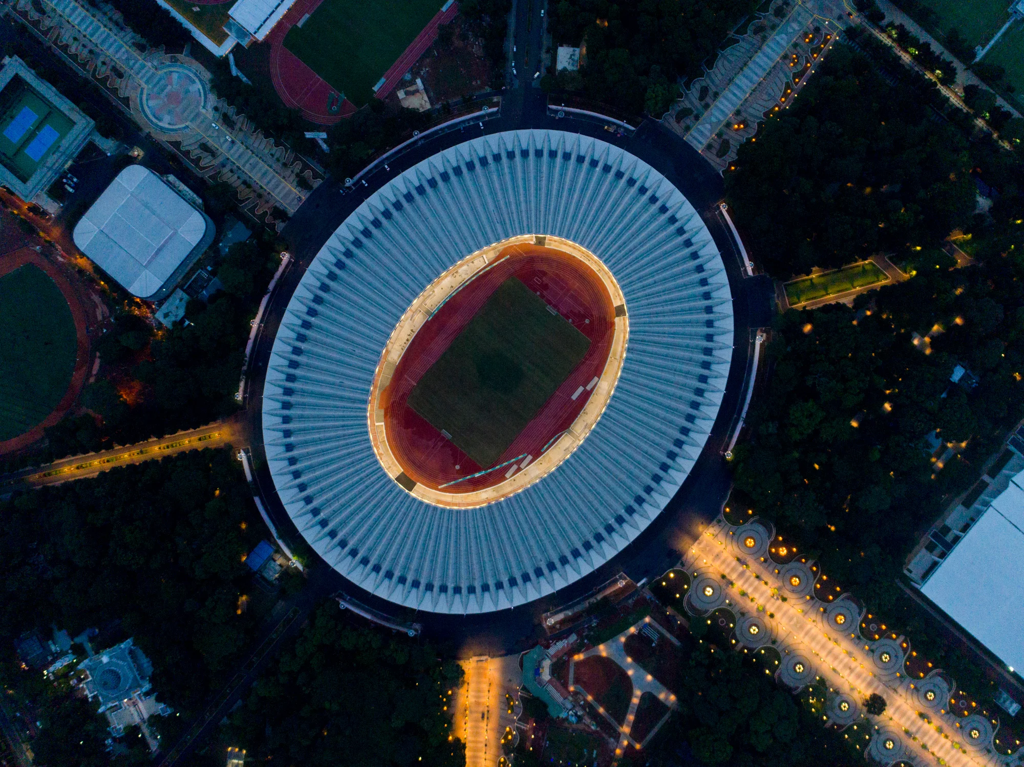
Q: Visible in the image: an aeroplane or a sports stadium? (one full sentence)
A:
Looking from above, you can make out a sports stadium.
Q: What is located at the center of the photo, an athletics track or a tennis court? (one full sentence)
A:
You can see an athletics track at the center of the photo.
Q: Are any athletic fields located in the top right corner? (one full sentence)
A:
Yes, you'll find an athletic field in the top right corner.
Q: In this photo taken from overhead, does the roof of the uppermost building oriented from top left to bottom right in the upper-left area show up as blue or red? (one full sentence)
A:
The roof of the uppermost building oriented from top left to bottom right in the upper-left area is blue.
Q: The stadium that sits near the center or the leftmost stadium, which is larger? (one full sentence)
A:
The stadium that sits near the center takes up more space than the leftmost stadium.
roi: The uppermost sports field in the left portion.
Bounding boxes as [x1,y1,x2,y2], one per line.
[283,0,446,103]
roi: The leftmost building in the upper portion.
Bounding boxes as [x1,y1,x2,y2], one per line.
[0,55,103,206]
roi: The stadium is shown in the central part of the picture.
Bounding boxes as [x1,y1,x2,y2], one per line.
[258,126,738,617]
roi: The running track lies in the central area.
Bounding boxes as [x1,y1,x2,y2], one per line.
[381,247,617,498]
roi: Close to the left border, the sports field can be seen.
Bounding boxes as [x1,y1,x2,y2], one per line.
[0,248,91,453]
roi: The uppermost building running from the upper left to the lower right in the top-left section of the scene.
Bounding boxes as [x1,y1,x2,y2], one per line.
[222,17,259,52]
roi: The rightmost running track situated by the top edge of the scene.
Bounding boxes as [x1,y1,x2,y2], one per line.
[265,0,474,125]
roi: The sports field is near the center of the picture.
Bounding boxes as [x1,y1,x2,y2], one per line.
[407,276,591,469]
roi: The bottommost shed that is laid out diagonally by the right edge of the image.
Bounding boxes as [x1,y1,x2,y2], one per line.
[991,687,1021,717]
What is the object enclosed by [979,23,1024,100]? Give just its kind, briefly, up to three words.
sports field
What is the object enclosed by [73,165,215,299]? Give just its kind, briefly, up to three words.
stadium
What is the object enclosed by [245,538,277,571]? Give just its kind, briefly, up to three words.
house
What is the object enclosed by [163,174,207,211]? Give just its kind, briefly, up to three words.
building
